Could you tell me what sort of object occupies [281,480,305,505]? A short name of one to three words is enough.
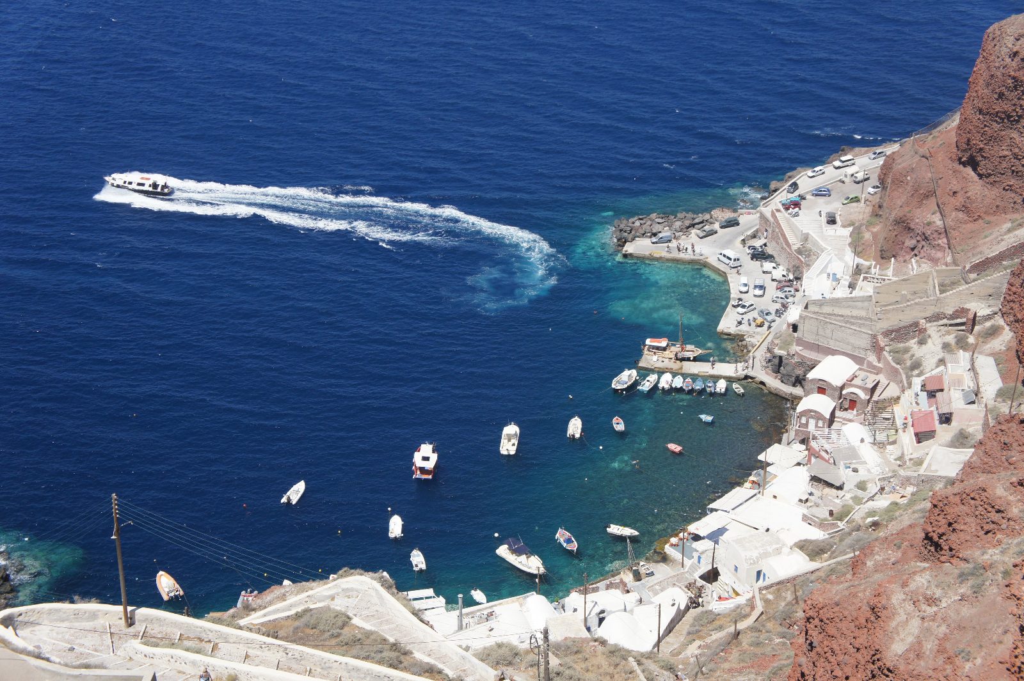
boat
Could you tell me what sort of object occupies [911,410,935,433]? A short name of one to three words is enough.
shed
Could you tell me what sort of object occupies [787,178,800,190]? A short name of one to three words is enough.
vehicle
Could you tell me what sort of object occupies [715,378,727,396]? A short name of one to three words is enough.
boat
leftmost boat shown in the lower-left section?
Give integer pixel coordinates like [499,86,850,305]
[156,571,184,602]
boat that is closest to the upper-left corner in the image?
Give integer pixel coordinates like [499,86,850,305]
[104,169,177,204]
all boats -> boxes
[469,585,486,604]
[636,373,656,395]
[412,439,437,484]
[499,423,518,459]
[715,378,727,396]
[645,299,711,362]
[666,445,684,455]
[611,365,636,393]
[614,416,624,435]
[683,377,693,393]
[104,169,177,204]
[705,379,714,396]
[492,535,544,574]
[604,522,638,537]
[156,571,184,602]
[410,548,426,574]
[734,383,744,395]
[281,480,305,505]
[568,416,583,442]
[389,515,402,541]
[237,587,258,606]
[693,377,703,394]
[658,372,672,393]
[671,374,683,392]
[557,525,576,554]
[699,414,716,425]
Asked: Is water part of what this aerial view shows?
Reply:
Yes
